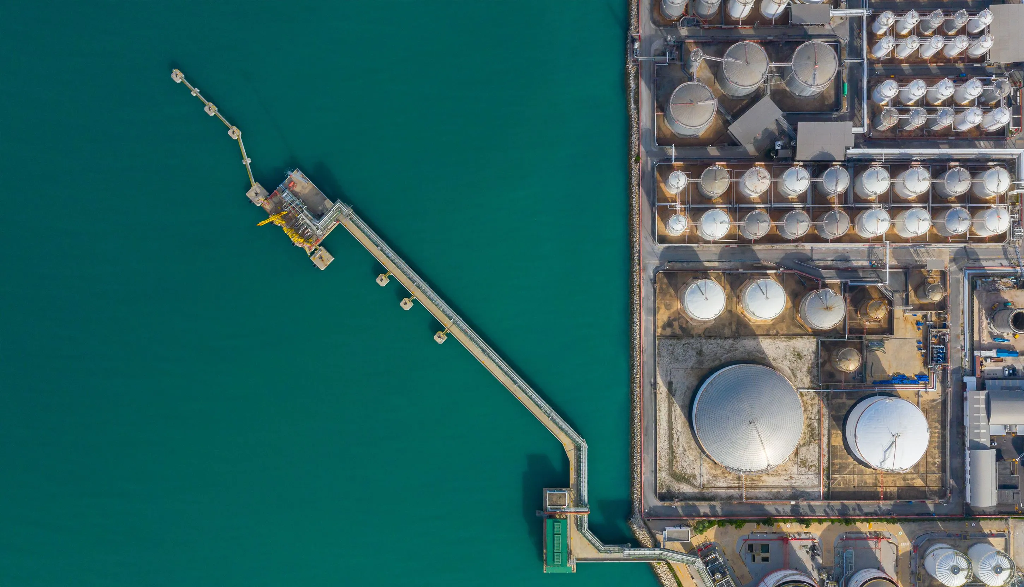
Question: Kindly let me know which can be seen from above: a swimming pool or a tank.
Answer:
tank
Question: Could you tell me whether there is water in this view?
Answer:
Yes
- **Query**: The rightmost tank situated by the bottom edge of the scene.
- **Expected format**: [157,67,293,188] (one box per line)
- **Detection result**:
[964,541,1020,587]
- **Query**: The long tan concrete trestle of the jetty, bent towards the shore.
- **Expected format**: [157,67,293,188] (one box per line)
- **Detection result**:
[339,210,665,563]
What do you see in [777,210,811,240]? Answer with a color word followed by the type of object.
gray storage tank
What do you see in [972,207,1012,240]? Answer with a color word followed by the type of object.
white storage tank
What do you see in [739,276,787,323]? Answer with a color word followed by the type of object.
white storage tank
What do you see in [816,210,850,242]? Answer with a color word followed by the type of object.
gray storage tank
